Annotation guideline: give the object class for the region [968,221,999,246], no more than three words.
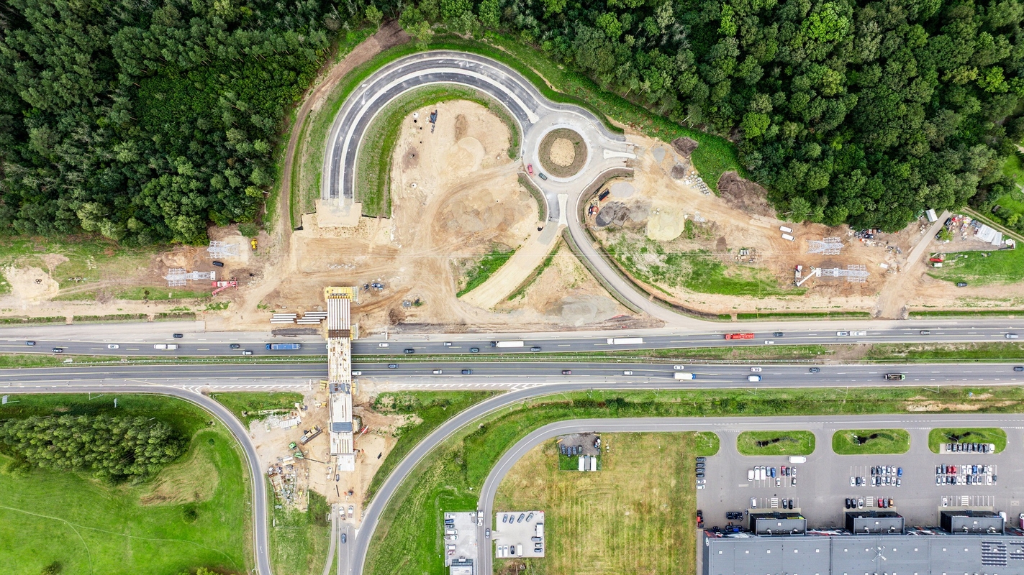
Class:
building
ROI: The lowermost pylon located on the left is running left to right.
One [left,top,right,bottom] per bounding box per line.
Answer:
[163,268,215,286]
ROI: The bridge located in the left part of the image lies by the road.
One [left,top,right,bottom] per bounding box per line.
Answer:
[321,286,363,472]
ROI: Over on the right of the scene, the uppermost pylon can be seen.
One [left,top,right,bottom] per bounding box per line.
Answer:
[806,236,845,255]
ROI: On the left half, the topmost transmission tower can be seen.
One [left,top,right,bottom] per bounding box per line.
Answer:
[204,239,238,258]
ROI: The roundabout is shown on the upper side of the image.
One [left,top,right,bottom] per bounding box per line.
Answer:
[513,99,636,224]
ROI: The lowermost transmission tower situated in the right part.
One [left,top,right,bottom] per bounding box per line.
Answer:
[817,265,870,283]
